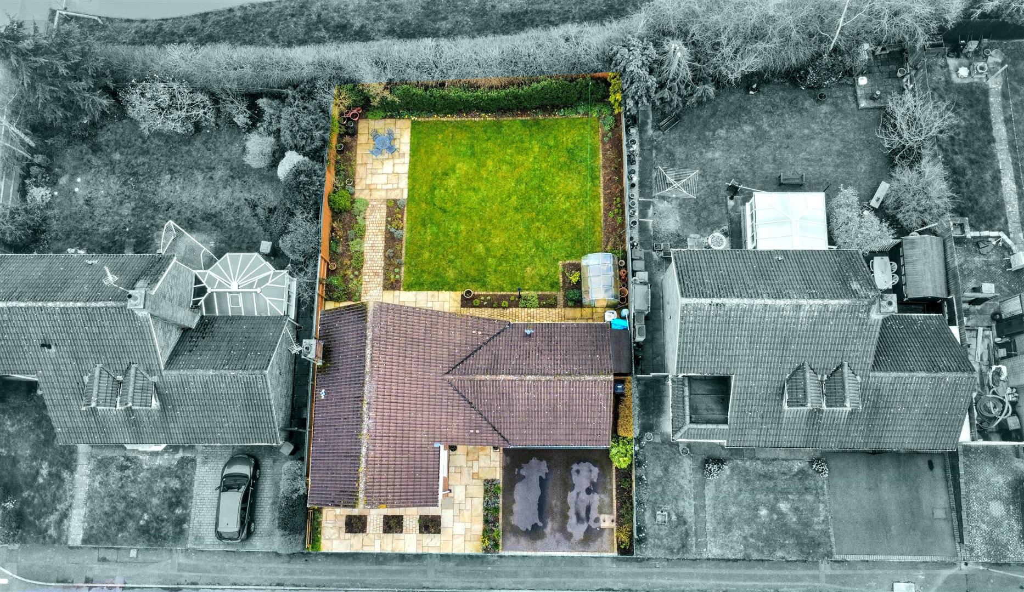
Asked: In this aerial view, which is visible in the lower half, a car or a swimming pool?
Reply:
car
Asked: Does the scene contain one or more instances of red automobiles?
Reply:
No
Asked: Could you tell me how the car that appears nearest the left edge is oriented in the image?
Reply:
vertically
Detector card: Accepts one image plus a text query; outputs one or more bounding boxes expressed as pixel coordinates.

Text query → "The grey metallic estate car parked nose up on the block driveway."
[212,454,263,545]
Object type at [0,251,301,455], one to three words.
house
